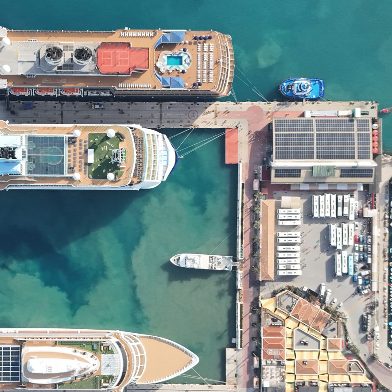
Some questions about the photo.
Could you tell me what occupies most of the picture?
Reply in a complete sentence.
The largest share of the image is taken up by water.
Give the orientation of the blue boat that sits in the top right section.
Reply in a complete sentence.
From this overhead view, the blue boat that sits in the top right section appears to run from left to right.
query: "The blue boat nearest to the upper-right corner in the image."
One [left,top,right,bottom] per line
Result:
[278,76,326,99]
